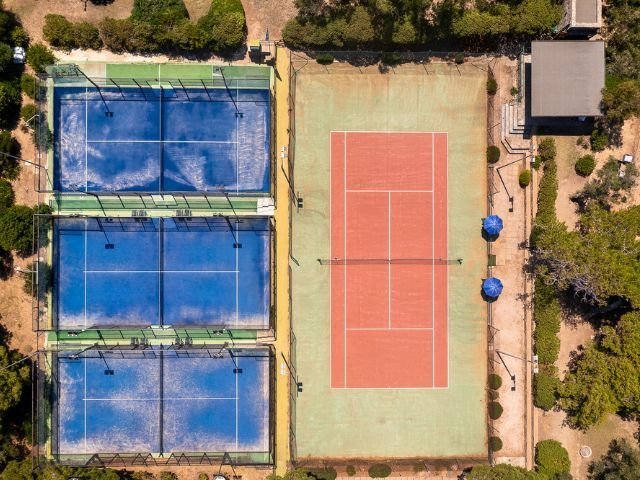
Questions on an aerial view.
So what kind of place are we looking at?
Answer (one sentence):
It's a sports ground.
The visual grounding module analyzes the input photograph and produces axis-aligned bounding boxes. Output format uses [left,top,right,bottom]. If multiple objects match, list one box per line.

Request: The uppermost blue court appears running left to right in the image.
[51,86,271,195]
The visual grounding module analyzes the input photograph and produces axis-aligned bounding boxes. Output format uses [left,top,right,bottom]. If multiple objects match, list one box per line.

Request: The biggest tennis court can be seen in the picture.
[292,59,488,458]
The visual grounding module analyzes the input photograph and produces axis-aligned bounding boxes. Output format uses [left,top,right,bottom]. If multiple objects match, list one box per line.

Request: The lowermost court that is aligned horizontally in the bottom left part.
[51,344,271,455]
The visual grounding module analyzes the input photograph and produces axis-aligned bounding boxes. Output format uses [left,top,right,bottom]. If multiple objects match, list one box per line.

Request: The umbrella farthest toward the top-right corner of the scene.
[482,214,503,234]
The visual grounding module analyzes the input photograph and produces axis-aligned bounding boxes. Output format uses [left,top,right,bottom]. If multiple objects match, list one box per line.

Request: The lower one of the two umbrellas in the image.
[482,277,502,297]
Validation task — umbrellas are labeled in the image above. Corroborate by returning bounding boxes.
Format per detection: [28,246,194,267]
[482,214,503,234]
[482,277,502,297]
